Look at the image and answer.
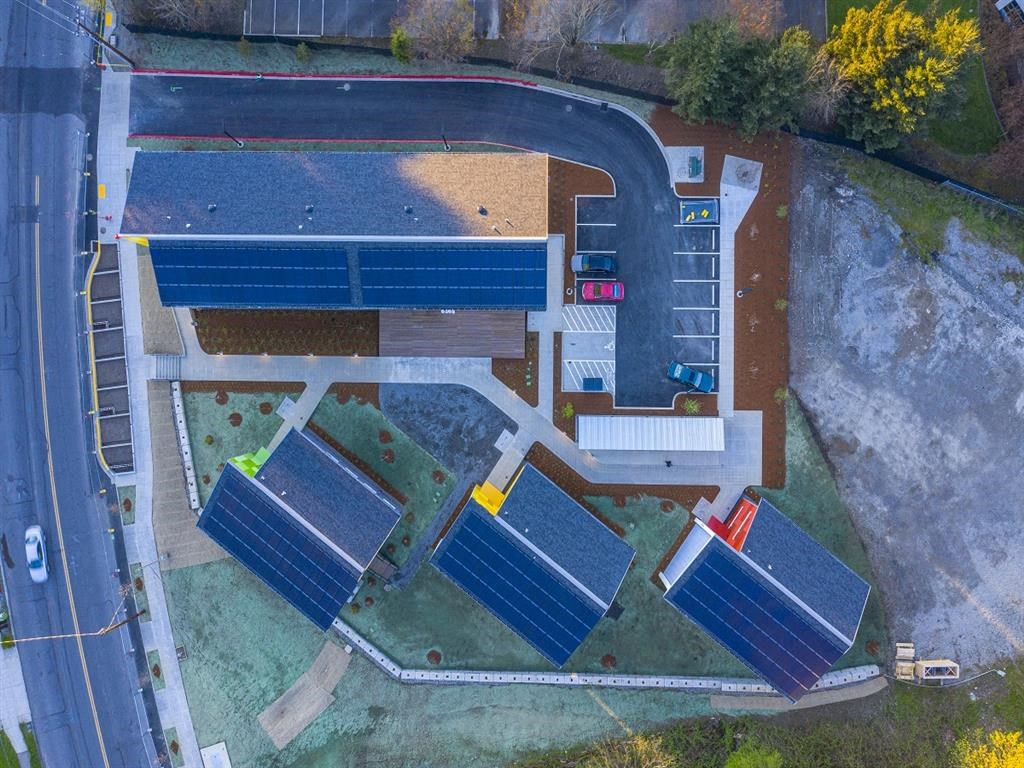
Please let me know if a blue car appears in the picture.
Yes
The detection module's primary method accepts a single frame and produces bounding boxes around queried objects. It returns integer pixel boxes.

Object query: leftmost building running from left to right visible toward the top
[117,151,549,315]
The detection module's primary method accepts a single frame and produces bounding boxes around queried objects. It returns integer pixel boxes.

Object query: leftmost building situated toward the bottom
[196,427,402,632]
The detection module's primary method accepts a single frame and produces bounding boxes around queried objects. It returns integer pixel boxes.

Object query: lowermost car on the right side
[669,360,718,394]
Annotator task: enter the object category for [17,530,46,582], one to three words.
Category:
car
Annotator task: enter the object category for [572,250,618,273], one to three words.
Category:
car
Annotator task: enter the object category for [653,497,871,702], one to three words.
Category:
house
